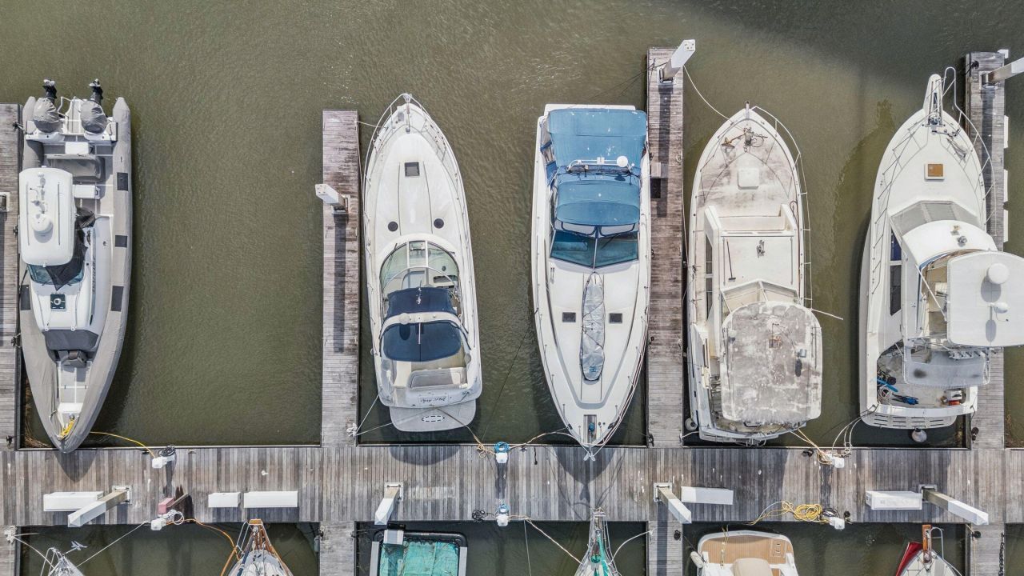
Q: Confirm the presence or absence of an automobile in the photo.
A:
No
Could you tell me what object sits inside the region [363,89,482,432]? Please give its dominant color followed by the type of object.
white boat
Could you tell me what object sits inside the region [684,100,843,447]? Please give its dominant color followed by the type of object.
white boat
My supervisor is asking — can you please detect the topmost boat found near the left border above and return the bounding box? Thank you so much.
[17,79,133,450]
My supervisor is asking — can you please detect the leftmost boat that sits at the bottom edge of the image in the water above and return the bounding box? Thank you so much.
[40,540,96,576]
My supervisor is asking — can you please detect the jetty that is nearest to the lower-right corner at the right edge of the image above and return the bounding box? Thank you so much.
[960,523,1004,576]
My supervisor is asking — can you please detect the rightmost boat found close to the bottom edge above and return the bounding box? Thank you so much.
[888,524,961,576]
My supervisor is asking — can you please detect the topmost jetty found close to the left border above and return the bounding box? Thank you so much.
[0,102,26,448]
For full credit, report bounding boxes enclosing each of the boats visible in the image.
[684,100,843,447]
[40,540,96,576]
[888,524,961,576]
[363,89,482,432]
[693,528,798,576]
[576,508,621,576]
[531,105,652,461]
[229,519,294,576]
[855,67,1024,429]
[17,79,133,450]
